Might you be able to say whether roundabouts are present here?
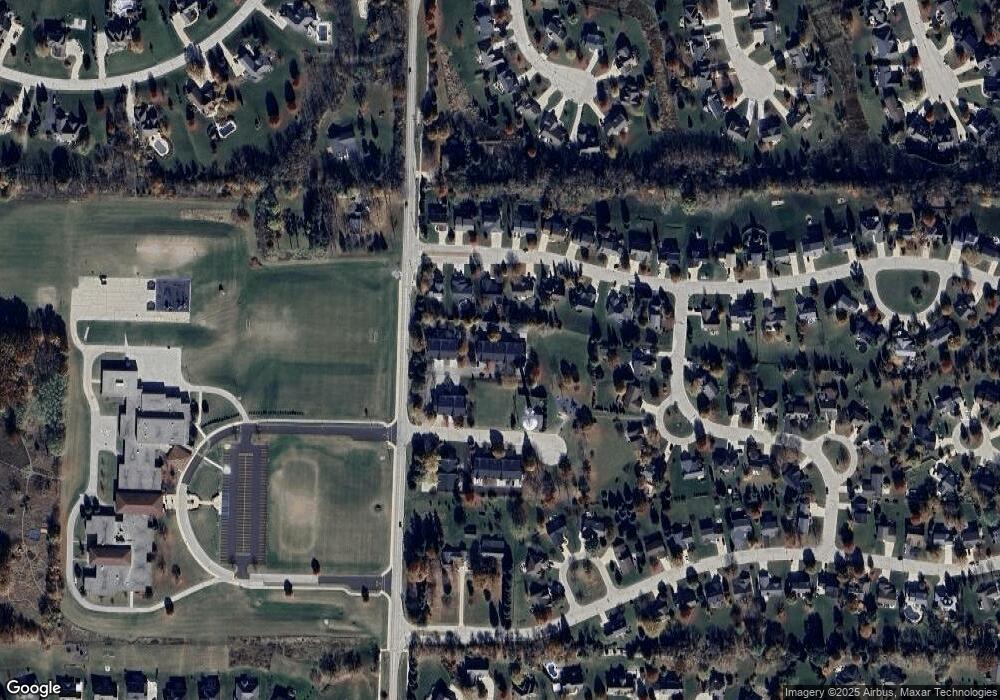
Yes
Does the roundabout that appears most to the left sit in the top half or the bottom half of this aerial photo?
bottom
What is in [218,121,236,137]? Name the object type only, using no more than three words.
swimming pool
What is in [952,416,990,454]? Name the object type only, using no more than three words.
roundabout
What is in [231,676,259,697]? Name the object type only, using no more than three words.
house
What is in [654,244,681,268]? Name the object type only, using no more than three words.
house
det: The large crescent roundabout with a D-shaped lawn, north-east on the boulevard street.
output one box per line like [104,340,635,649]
[865,268,949,323]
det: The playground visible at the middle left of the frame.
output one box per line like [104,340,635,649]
[156,279,190,312]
